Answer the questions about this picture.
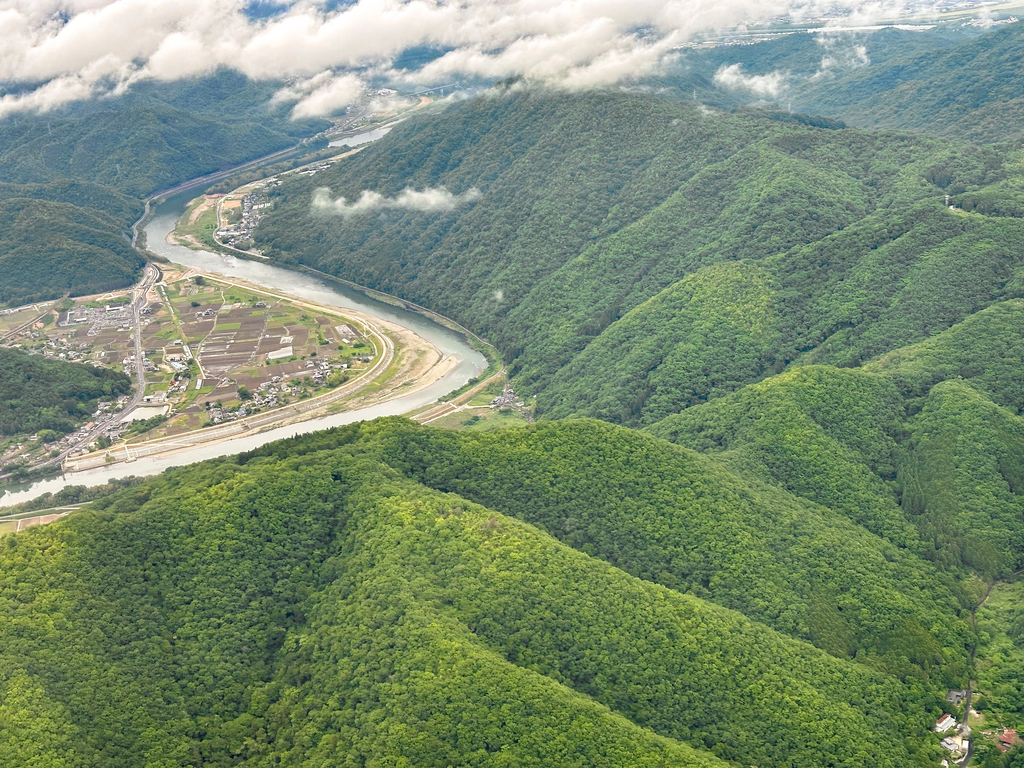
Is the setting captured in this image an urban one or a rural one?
rural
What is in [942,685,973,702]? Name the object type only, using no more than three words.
house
